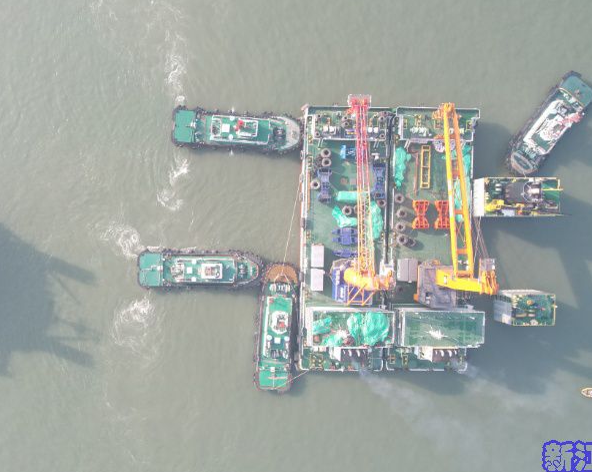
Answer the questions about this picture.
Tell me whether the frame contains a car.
No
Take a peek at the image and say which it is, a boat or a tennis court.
boat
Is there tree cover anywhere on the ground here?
No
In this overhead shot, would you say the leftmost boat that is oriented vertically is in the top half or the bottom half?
bottom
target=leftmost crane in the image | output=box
[329,91,395,307]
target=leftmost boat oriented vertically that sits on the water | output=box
[251,261,302,394]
